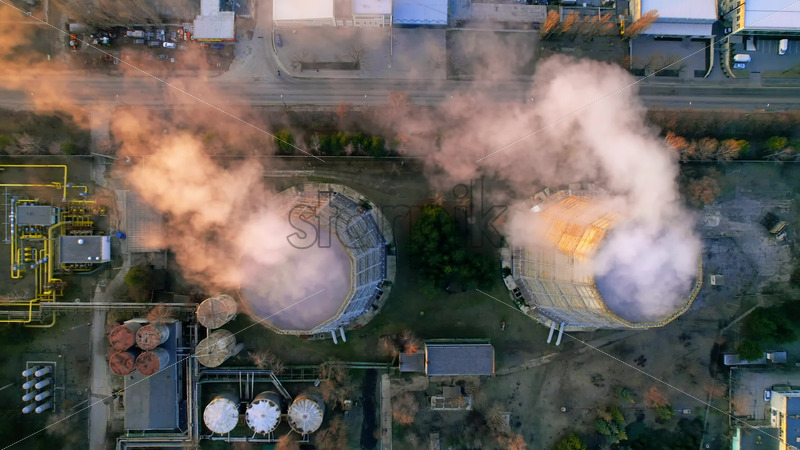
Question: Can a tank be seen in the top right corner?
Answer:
No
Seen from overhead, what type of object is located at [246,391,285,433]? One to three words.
storage tank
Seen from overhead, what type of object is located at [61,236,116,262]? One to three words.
house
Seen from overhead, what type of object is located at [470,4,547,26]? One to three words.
building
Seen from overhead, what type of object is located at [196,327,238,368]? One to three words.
storage tank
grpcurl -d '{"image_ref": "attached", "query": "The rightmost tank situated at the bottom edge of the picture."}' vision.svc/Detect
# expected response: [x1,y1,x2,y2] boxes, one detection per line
[288,391,326,433]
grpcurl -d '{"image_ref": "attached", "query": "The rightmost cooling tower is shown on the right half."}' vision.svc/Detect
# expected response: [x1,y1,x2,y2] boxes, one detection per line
[502,175,708,349]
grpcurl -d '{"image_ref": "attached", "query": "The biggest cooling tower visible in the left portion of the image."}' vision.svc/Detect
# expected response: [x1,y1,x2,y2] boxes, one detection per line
[234,177,401,348]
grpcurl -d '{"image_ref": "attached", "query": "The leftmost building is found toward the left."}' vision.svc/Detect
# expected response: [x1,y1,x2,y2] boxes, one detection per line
[18,205,59,224]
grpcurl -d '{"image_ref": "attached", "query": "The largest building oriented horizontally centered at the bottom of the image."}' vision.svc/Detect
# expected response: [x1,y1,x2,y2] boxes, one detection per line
[427,343,494,374]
